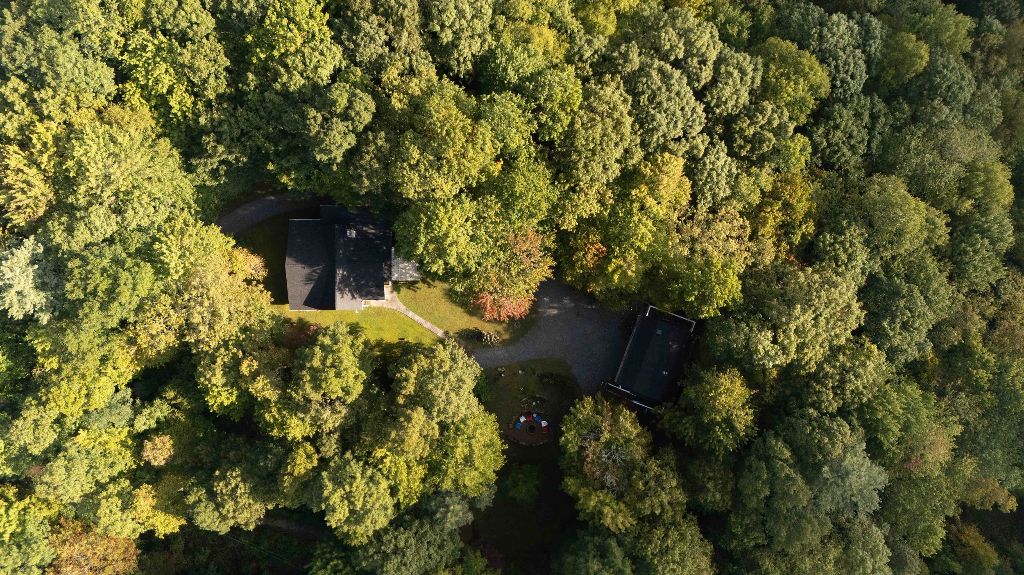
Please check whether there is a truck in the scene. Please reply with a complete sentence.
No, I can see no truck in this picture.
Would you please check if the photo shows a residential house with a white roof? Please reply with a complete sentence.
No, no residential house with a white roof can be seen from above.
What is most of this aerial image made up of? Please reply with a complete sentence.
Most of the picture is covered by trees.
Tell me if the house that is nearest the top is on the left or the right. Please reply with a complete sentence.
The house that is nearest the top is on the left side of the image.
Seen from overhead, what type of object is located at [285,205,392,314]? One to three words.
house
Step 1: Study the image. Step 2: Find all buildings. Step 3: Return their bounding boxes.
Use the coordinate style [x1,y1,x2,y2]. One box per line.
[615,314,699,402]
[285,205,392,314]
